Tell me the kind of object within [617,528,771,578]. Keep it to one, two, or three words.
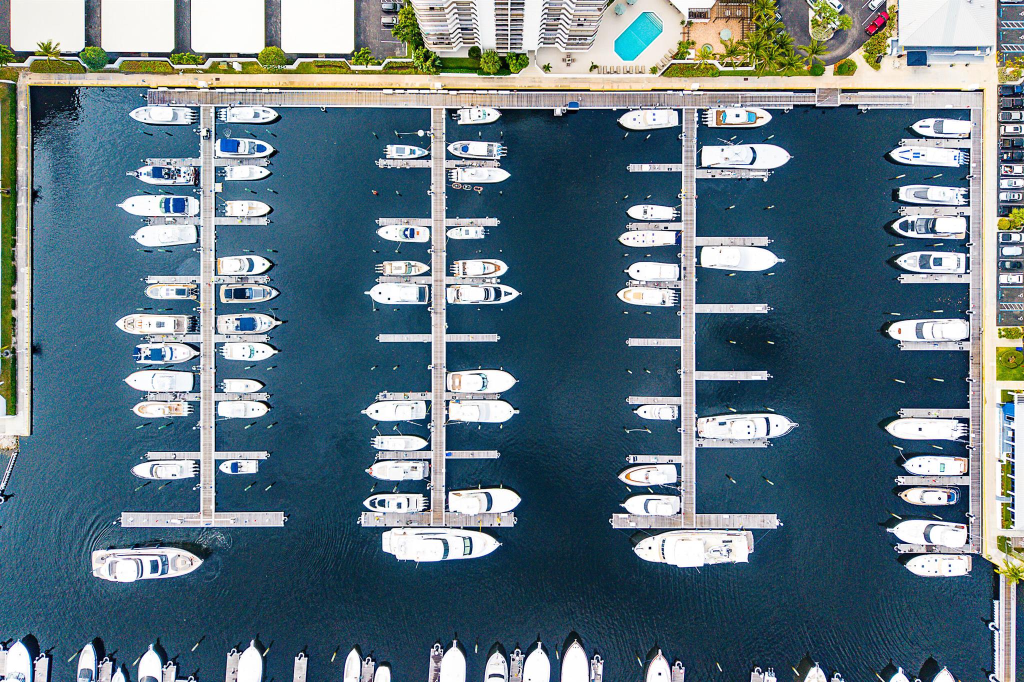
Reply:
boat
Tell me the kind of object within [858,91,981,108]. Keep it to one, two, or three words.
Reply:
pier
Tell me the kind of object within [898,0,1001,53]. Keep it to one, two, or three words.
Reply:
building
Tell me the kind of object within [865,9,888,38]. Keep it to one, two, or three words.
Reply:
truck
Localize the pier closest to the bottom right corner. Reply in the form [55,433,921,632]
[995,572,1016,682]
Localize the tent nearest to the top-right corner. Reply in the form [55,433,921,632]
[902,52,926,69]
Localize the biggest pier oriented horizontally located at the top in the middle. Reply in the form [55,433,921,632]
[144,90,869,112]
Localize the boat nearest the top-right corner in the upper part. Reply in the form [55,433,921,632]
[909,115,971,139]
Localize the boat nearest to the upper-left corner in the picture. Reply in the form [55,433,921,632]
[129,106,200,124]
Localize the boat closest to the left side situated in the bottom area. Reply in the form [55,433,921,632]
[4,638,35,682]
